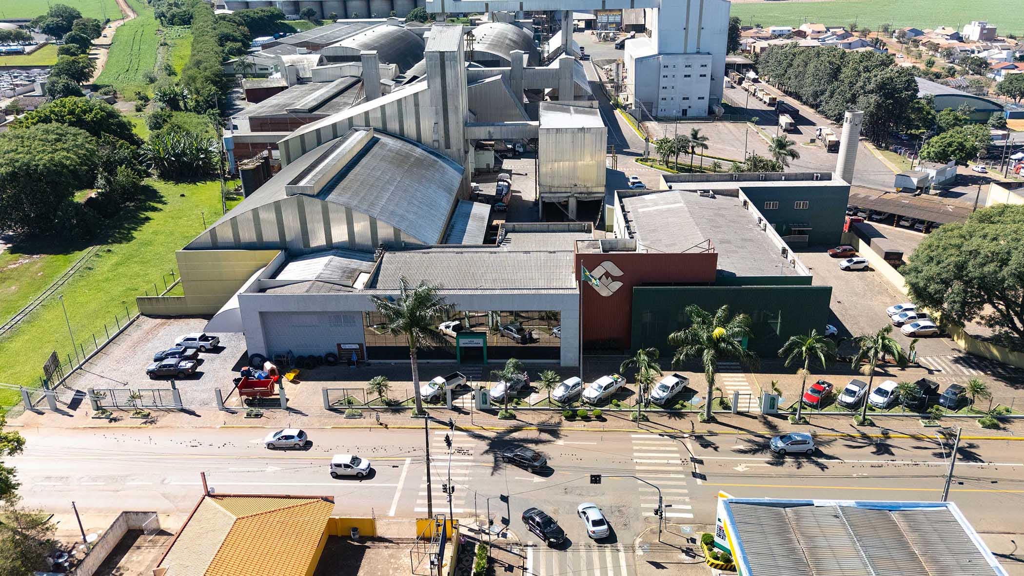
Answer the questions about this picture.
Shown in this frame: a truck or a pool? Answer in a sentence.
Of the two, only a truck appears.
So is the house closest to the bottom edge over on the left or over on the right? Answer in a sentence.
It is on the left.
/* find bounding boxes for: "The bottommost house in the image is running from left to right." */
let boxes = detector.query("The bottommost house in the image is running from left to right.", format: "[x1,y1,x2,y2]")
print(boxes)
[147,492,342,576]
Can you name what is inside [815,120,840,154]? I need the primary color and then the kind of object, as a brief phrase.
white truck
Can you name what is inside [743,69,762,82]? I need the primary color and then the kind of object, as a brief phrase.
white vehicle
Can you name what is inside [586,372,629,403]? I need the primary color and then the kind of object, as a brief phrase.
white truck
